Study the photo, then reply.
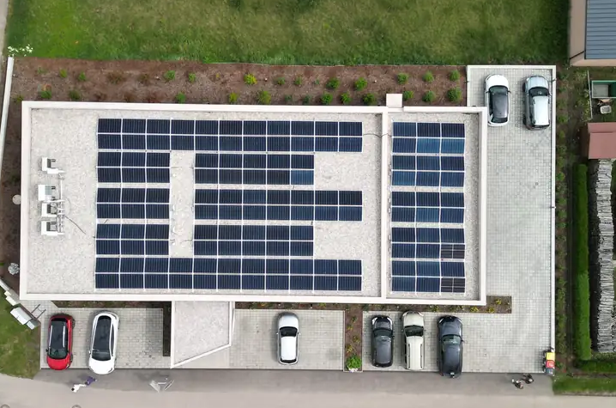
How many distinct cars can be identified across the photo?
8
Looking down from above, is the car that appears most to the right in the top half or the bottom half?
top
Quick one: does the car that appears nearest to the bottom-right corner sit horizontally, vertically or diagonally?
vertically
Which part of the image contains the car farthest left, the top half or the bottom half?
bottom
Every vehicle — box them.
[87,311,119,374]
[369,315,396,367]
[401,310,427,370]
[436,314,466,378]
[522,75,552,129]
[275,311,302,365]
[484,74,512,127]
[45,314,75,368]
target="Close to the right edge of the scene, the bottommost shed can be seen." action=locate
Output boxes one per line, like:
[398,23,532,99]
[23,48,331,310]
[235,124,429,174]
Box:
[582,121,616,159]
